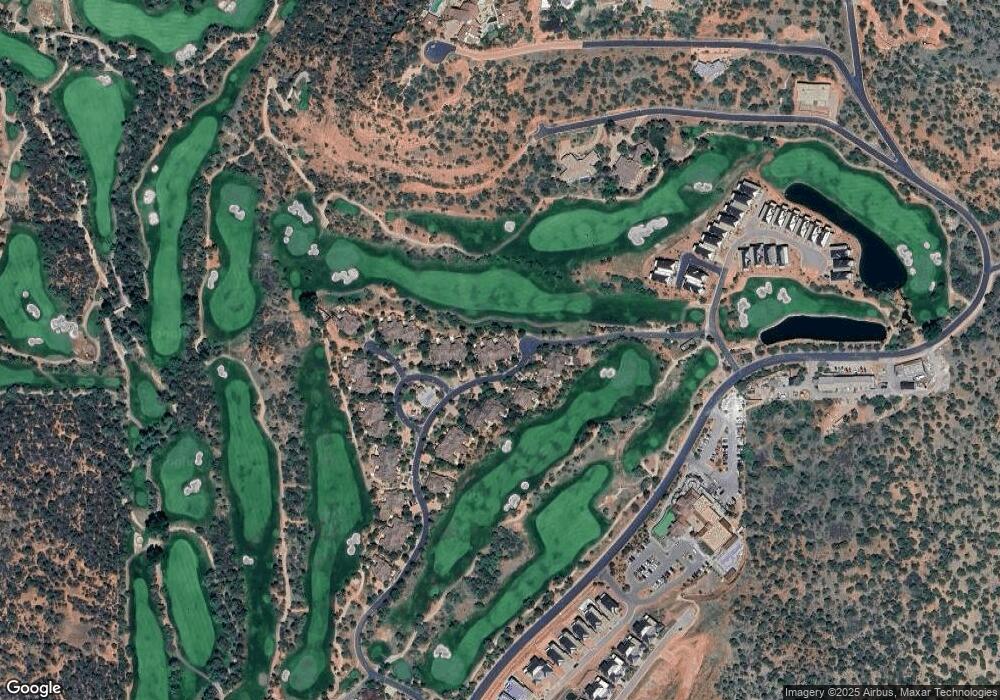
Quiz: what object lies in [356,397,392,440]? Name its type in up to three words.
house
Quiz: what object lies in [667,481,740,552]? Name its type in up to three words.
building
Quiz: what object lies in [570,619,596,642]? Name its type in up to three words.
house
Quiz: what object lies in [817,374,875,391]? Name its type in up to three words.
shed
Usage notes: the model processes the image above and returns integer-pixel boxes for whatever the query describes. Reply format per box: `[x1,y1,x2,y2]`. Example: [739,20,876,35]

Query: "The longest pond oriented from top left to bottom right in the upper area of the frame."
[785,184,905,289]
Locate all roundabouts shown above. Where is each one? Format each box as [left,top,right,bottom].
[395,373,449,432]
